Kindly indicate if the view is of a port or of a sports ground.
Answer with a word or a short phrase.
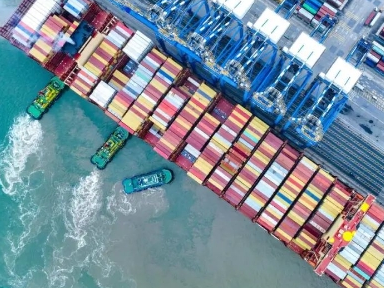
port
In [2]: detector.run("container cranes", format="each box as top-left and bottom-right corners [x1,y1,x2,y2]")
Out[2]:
[203,0,304,107]
[153,0,253,85]
[278,35,376,149]
[114,0,212,64]
[248,11,341,128]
